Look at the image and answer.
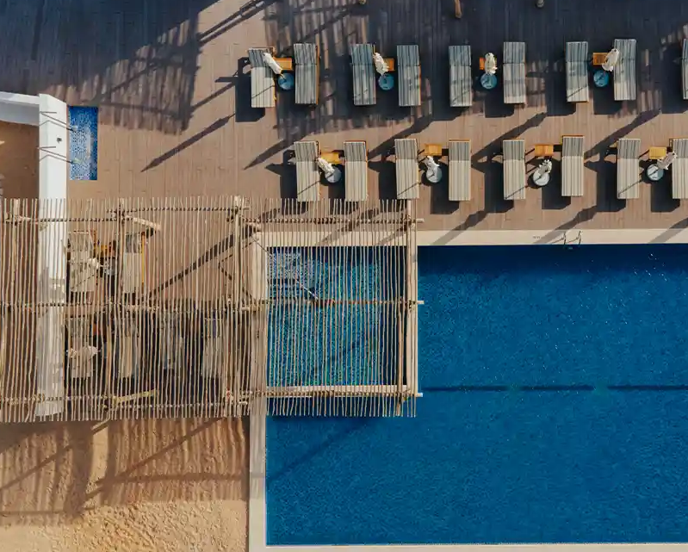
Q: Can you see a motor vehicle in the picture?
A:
No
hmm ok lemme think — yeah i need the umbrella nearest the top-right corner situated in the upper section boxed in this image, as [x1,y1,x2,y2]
[592,51,614,88]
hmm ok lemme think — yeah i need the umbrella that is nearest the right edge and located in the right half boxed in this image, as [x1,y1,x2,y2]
[646,154,674,182]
